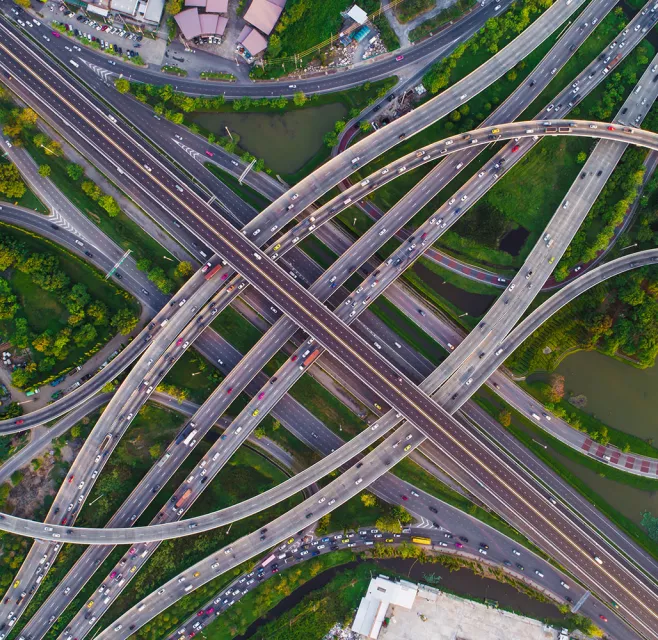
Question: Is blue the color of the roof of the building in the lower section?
No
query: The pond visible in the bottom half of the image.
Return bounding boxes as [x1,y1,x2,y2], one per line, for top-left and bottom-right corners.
[526,351,658,447]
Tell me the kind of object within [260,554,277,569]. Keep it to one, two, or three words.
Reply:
vehicle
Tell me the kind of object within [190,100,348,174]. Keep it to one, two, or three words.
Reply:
pond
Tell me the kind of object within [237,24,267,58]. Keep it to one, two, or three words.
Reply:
house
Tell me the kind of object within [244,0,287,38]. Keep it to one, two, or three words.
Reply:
house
